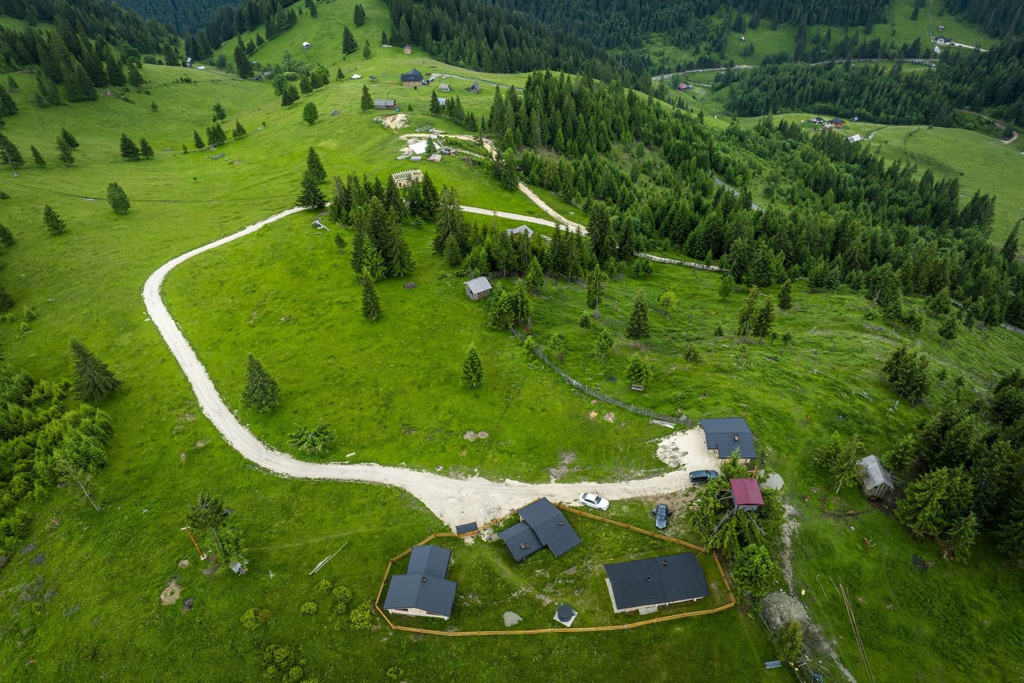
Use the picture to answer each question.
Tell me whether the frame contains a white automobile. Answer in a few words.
Yes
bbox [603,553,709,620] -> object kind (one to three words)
building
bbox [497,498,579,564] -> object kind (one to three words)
building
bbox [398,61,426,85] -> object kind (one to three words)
house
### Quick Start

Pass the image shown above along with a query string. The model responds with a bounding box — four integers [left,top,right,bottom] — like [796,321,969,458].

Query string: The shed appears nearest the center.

[466,280,492,301]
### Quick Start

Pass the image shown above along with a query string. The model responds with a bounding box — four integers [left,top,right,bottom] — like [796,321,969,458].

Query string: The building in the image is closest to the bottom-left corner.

[381,545,457,624]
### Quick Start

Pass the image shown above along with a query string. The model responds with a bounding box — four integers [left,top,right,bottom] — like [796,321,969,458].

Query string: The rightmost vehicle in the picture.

[688,468,720,483]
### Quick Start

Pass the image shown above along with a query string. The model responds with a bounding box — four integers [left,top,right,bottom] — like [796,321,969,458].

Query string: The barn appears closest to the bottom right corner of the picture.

[860,454,904,499]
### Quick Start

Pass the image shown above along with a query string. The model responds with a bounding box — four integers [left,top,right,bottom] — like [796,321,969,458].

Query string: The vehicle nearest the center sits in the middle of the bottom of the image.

[578,490,611,512]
